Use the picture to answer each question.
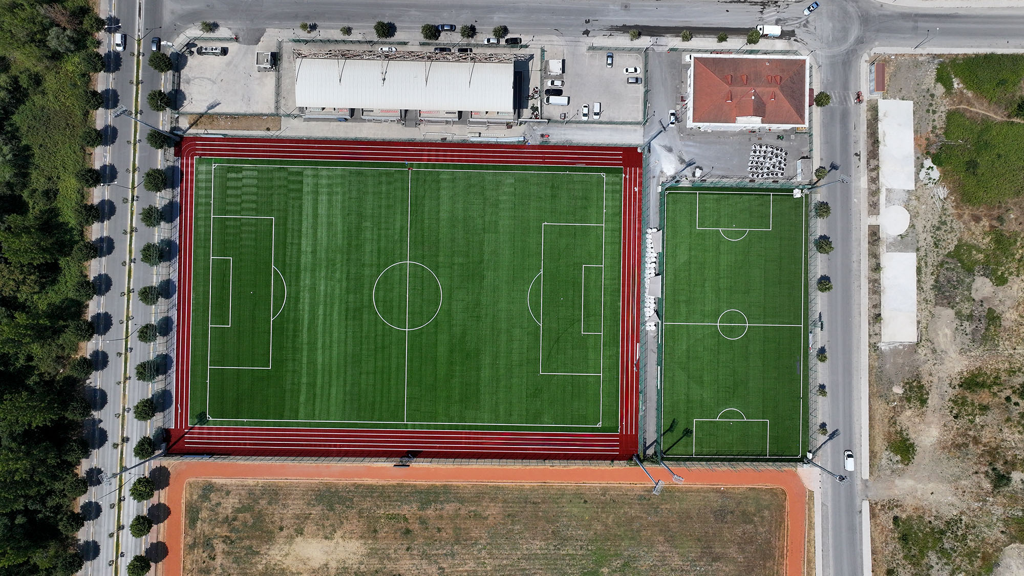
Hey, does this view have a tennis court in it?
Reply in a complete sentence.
No, the picture doesn't show any tennis court.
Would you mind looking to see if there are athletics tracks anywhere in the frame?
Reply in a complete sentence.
Yes, the picture does show an athletics track.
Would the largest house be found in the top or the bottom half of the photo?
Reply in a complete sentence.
You can find the largest house in the top half.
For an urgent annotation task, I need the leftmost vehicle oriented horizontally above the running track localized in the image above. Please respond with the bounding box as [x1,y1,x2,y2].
[197,45,227,57]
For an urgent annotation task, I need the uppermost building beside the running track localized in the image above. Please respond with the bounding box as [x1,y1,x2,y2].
[677,54,814,131]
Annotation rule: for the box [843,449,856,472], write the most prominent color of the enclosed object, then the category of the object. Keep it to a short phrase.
white vehicle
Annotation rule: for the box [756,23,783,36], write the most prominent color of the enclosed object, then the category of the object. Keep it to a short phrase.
white vehicle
